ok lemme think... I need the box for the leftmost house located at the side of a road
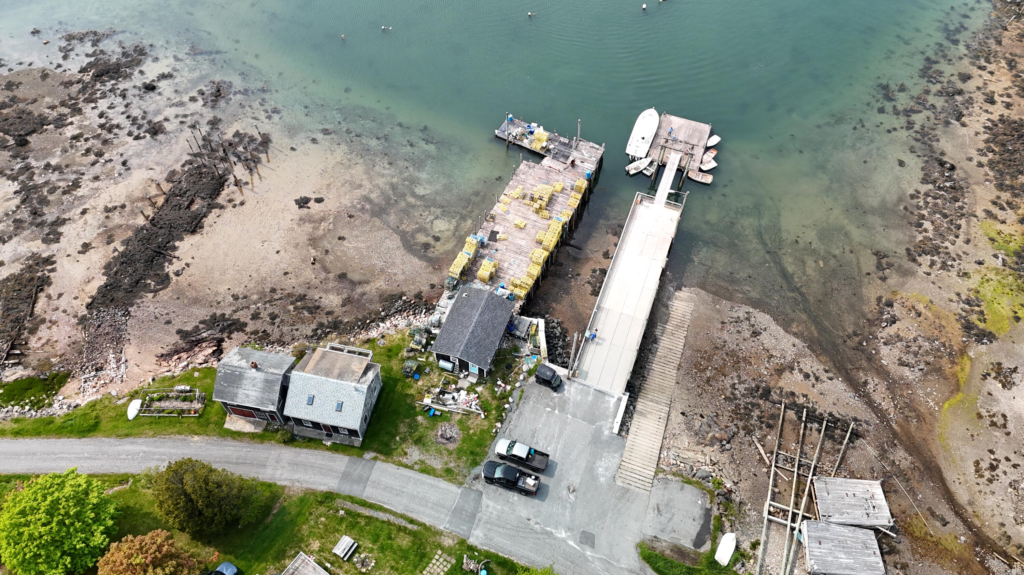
[214,346,299,425]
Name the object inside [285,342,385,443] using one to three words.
house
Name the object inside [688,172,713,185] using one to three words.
boat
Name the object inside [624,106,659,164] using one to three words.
boat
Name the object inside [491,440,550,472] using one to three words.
truck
